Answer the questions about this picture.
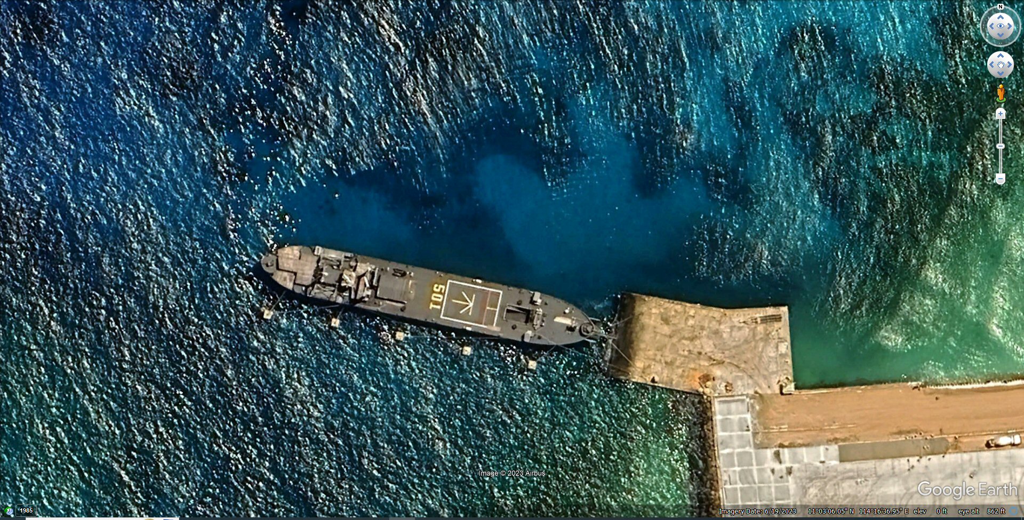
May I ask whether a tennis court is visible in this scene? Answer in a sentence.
No, the scene contains no tennis court.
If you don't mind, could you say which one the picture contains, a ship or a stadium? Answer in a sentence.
This aerial view contains a ship.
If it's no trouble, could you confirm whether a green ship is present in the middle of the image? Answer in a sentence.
No, I see no green ship in the middle of the image.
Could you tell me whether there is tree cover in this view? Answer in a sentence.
No, the picture contains no tree cover.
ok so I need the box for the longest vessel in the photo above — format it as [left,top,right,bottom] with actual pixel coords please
[261,245,617,345]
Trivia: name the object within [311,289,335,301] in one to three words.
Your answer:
boat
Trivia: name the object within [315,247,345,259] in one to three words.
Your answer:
boat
